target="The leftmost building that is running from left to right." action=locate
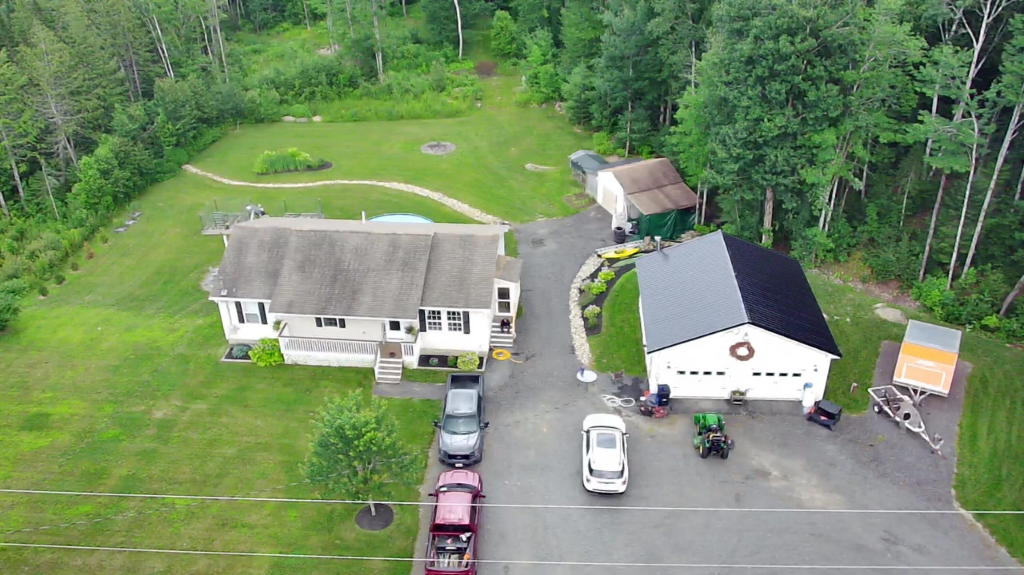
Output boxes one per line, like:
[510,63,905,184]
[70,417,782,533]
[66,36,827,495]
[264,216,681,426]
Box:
[209,213,522,369]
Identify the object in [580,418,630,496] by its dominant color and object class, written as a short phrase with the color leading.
white car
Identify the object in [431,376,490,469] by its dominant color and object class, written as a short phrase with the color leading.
gray truck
